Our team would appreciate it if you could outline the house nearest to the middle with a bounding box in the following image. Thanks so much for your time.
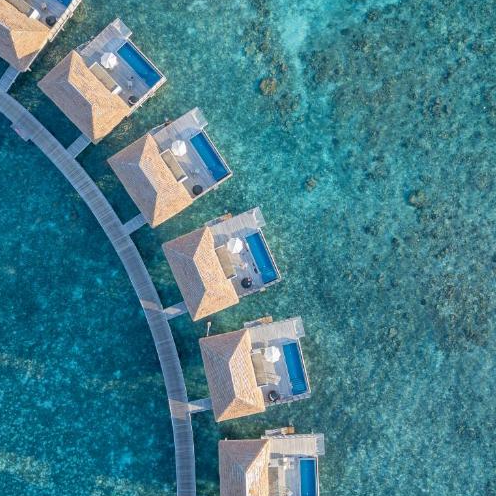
[162,206,286,321]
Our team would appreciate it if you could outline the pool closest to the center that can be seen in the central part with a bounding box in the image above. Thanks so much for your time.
[244,228,282,287]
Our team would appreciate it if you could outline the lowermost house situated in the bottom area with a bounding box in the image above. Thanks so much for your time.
[220,424,327,496]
